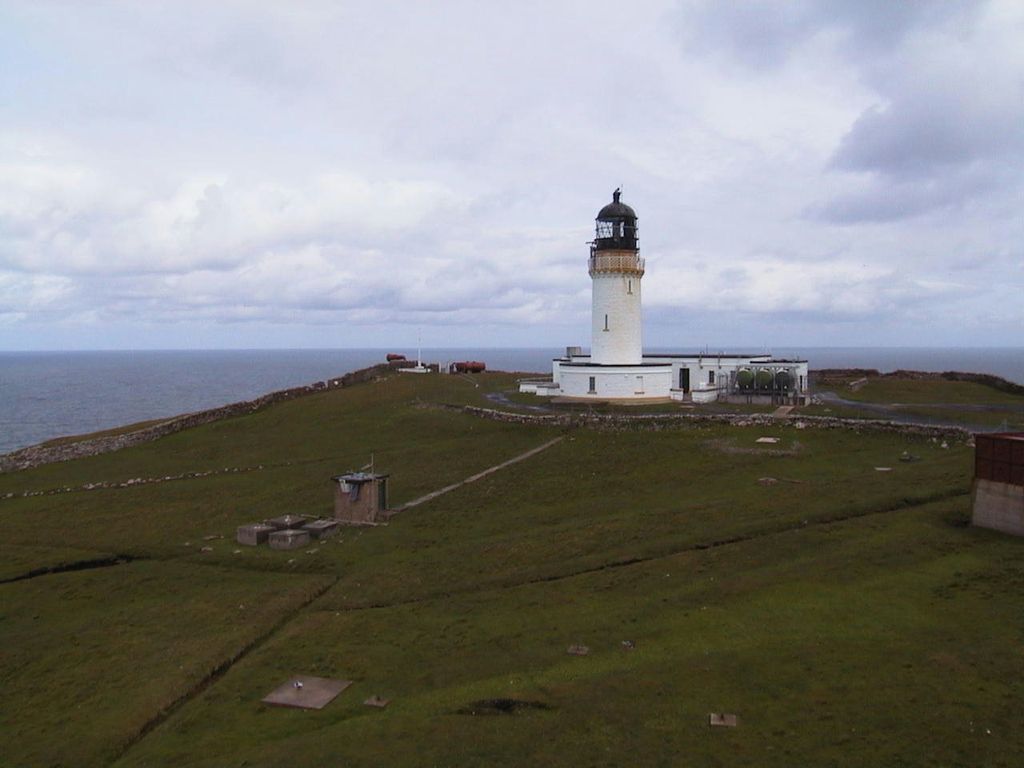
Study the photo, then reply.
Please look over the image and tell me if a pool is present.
No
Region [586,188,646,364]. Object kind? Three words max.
lighthouse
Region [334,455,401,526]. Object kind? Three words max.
shed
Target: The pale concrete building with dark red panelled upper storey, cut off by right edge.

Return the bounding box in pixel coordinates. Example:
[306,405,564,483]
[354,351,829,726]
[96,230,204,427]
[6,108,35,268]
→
[973,433,1024,536]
